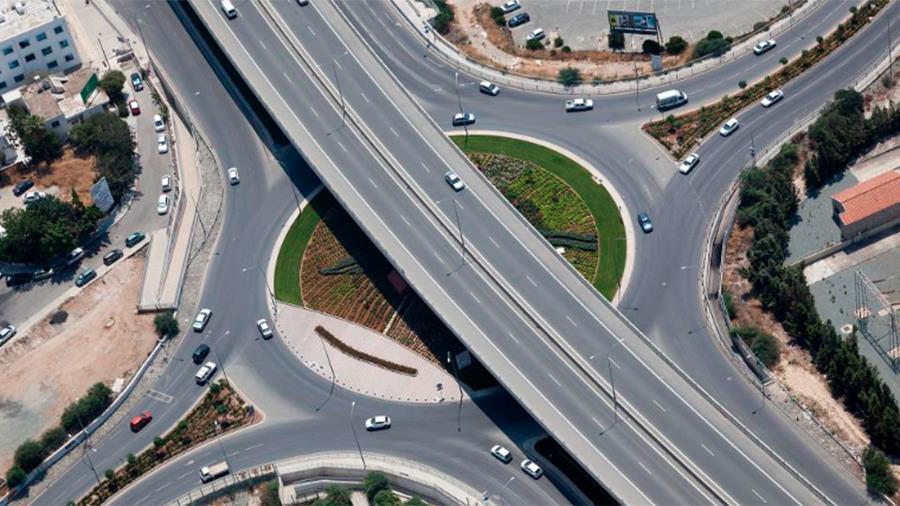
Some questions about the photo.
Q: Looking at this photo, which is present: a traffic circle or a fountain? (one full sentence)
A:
Visible in the photo is a traffic circle.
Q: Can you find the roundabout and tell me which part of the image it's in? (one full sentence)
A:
You can find the roundabout in the center area of the picture.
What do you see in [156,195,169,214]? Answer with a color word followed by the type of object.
white vehicle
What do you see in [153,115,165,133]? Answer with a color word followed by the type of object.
white vehicle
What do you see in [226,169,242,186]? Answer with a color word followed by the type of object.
white car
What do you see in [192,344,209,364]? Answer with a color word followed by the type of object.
black car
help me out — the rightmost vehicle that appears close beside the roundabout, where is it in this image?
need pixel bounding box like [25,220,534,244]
[637,213,652,233]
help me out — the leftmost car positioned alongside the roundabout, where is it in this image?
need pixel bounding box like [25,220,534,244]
[256,320,273,340]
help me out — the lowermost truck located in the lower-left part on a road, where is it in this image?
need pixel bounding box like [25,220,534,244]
[197,459,233,481]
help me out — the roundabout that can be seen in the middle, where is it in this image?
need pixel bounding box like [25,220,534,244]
[266,130,635,403]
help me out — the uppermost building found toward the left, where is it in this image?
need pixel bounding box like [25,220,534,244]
[0,0,82,95]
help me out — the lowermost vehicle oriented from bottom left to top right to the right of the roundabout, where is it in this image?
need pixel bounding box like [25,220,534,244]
[679,155,700,173]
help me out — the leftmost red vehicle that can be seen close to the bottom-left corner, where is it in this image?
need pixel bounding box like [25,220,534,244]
[129,412,153,431]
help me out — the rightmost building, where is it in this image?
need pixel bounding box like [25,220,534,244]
[823,165,900,237]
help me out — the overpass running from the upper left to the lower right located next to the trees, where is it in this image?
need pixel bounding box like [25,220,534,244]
[173,0,839,506]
